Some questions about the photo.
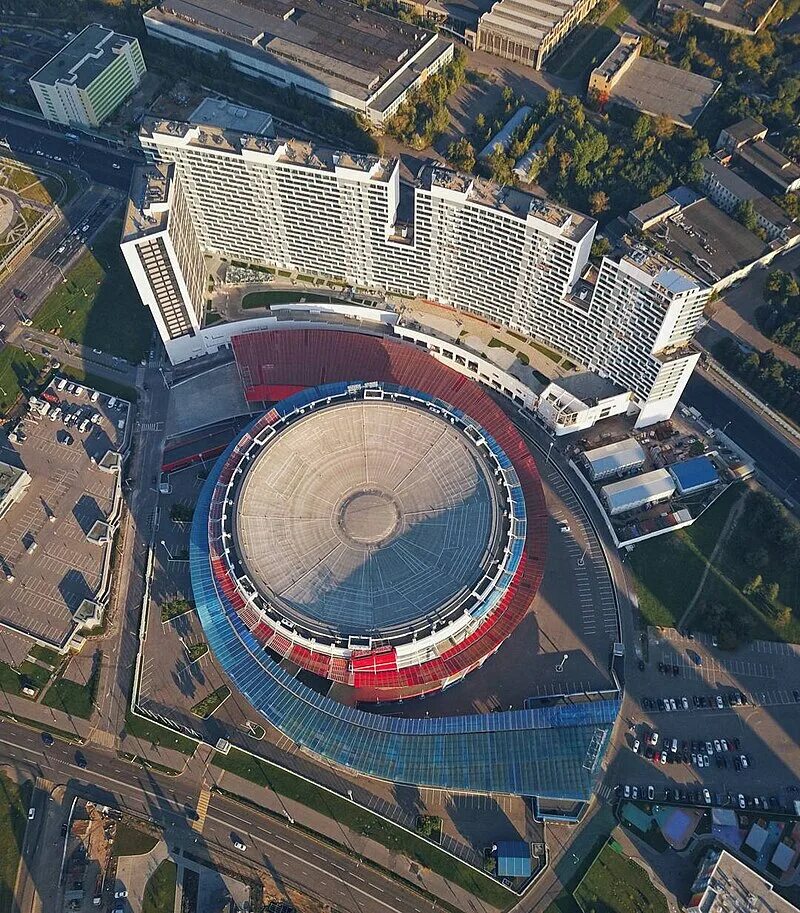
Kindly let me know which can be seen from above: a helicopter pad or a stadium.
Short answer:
stadium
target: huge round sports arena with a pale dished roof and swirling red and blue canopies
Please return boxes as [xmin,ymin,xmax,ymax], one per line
[190,328,612,793]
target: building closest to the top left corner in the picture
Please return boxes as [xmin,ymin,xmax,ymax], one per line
[29,22,147,138]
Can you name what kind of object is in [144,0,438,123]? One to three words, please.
warehouse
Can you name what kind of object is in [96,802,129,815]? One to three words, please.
vehicle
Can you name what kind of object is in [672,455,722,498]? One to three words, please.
building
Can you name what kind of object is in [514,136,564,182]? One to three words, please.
hangar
